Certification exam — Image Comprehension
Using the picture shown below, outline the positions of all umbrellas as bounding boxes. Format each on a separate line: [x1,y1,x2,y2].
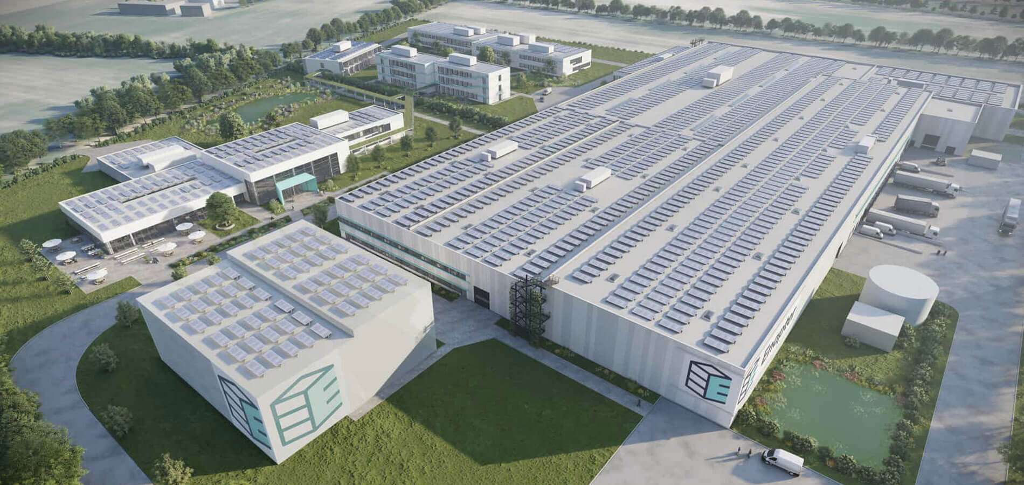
[154,241,178,255]
[54,250,80,264]
[173,221,195,234]
[40,237,65,251]
[84,267,109,282]
[185,230,208,243]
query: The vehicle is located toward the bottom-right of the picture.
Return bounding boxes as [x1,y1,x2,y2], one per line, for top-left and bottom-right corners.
[763,448,806,479]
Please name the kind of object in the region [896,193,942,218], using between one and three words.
truck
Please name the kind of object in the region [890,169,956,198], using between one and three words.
truck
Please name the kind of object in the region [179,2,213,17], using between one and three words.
shed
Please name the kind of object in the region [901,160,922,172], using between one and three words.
vehicle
